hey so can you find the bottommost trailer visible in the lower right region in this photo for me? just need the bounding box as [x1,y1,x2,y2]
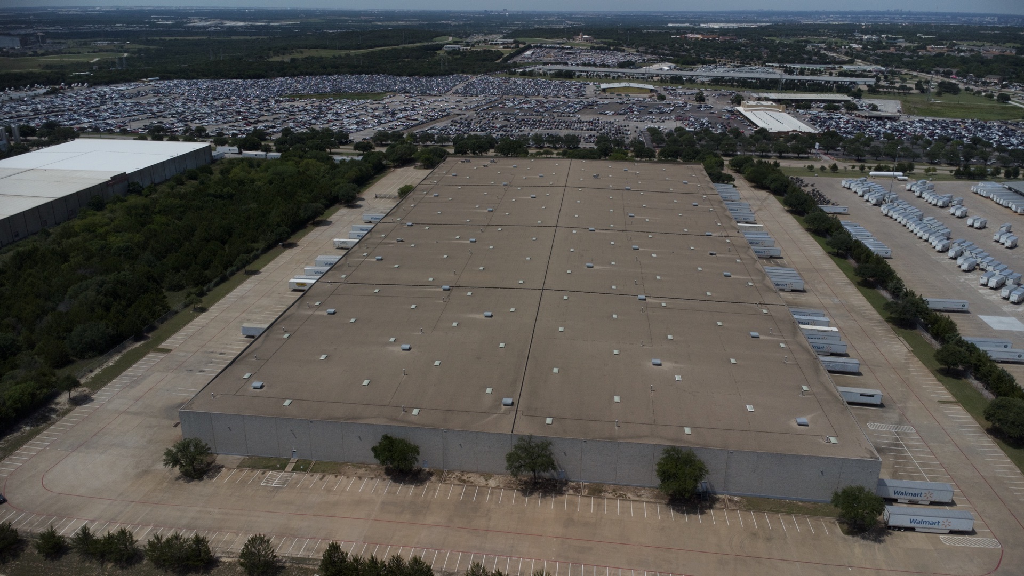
[885,505,976,533]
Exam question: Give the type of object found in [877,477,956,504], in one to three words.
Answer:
trailer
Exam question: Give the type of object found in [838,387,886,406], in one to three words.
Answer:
trailer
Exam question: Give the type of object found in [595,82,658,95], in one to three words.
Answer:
shed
